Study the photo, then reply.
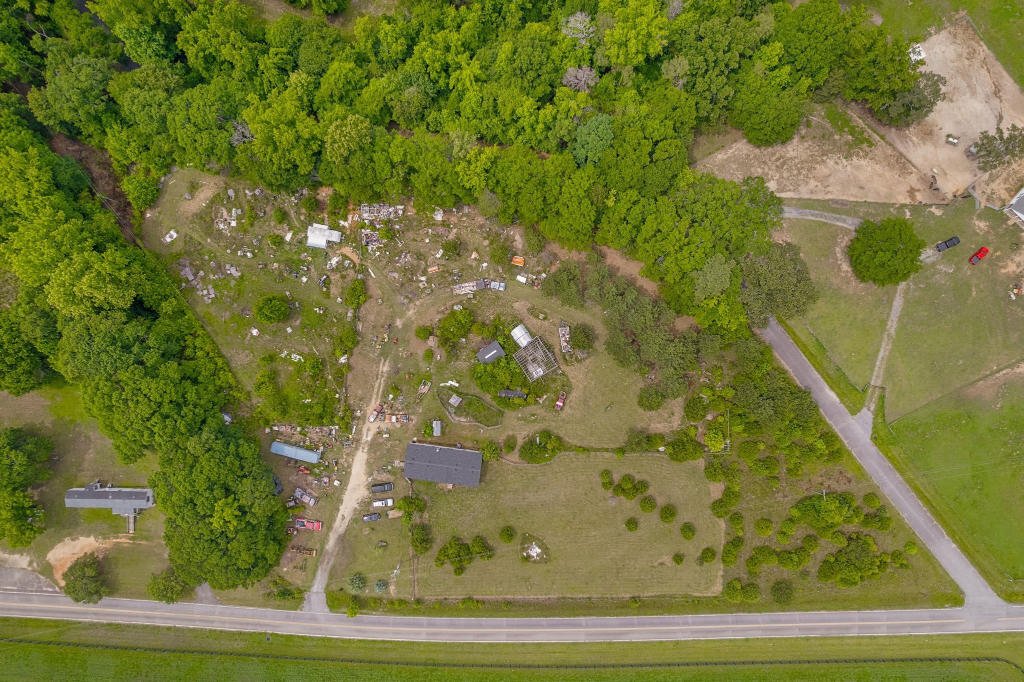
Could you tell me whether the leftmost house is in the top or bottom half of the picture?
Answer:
bottom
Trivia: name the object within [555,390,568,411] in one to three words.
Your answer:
vehicle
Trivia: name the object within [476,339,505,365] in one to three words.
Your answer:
shed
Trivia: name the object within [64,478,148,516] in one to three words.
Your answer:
house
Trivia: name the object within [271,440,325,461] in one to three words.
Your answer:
bus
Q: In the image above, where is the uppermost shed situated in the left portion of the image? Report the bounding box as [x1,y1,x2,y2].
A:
[306,224,343,250]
